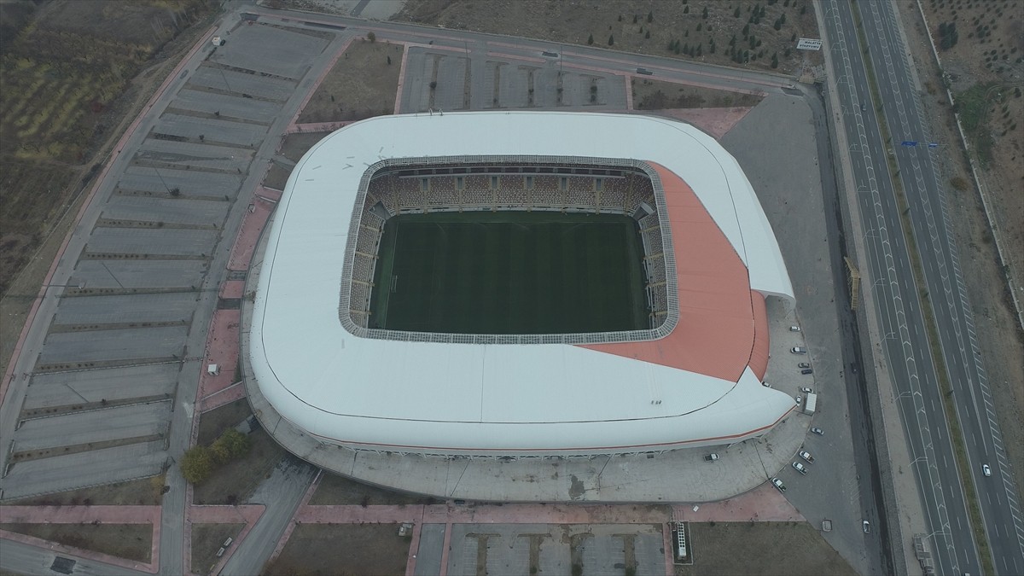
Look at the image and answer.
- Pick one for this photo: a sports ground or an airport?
sports ground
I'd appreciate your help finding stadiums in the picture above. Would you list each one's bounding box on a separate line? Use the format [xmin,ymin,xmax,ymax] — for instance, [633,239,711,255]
[237,110,815,505]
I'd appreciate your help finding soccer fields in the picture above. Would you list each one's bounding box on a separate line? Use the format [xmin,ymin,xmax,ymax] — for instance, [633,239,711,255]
[367,210,654,342]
